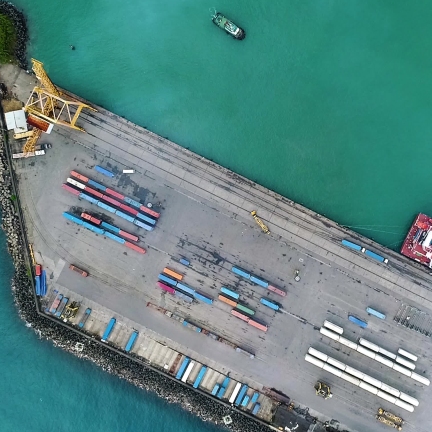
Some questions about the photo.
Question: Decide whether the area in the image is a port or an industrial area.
port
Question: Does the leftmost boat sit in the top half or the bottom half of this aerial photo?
top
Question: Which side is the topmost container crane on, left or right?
left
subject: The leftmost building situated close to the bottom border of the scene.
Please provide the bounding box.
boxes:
[272,403,320,432]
